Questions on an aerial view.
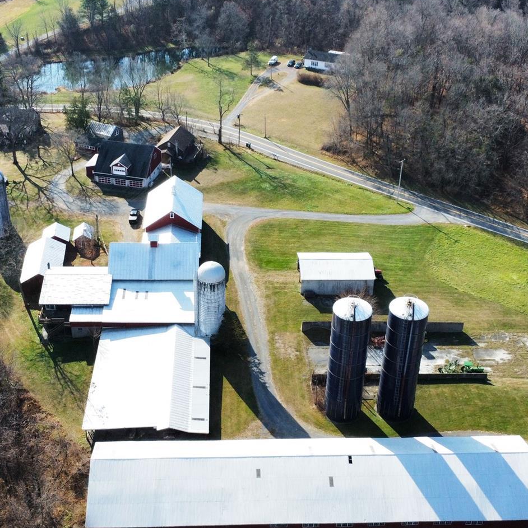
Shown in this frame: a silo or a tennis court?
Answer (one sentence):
This aerial view contains a silo.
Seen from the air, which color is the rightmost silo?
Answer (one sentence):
The color of the rightmost silo is black.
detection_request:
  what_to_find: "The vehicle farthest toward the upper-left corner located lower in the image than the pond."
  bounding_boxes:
[128,209,140,221]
